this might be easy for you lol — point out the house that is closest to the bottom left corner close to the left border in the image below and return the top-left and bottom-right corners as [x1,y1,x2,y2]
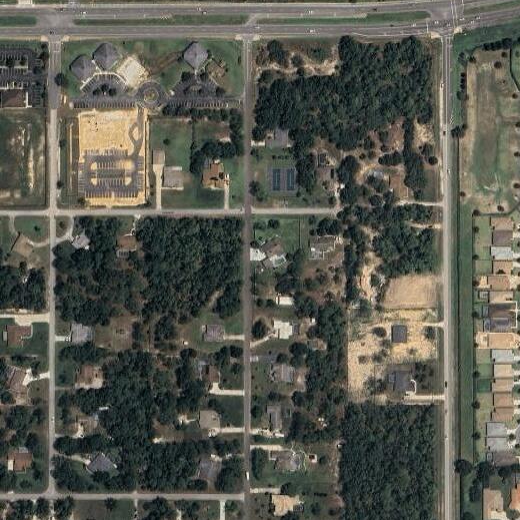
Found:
[10,449,29,472]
